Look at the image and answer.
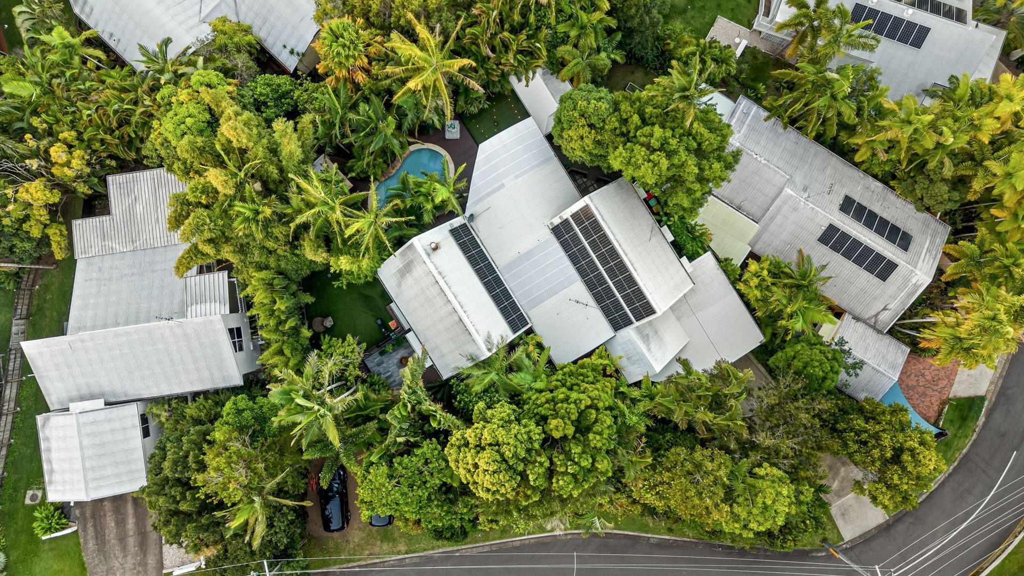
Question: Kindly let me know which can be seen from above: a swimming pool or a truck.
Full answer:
The image shows a swimming pool.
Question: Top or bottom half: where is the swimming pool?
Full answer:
The top half of the photo is where the swimming pool is.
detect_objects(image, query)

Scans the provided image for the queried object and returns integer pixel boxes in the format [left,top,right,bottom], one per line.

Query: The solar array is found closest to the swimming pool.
[449,223,529,332]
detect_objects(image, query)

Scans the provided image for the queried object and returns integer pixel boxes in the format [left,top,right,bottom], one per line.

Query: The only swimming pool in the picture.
[369,140,454,230]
